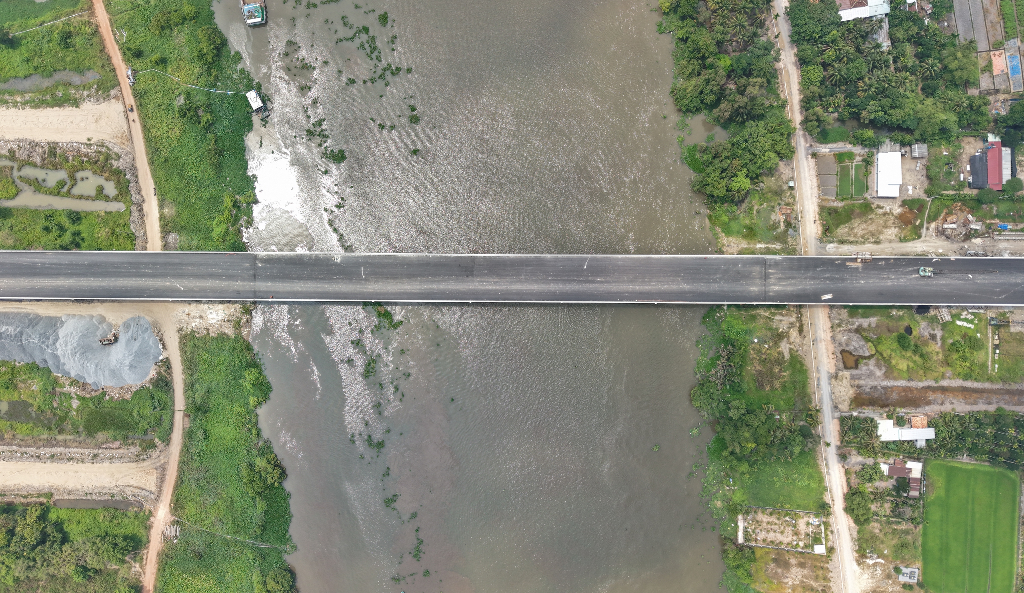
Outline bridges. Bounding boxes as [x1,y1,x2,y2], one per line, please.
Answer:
[0,251,1024,306]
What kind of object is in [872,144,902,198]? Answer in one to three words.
house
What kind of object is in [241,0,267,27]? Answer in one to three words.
ship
